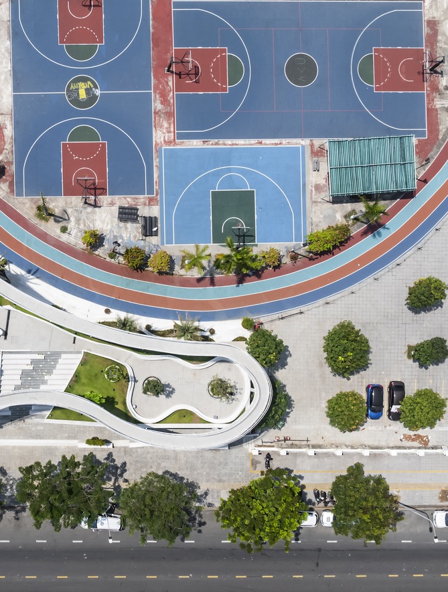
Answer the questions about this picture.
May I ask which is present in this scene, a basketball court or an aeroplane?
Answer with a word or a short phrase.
basketball court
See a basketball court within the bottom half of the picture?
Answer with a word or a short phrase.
No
